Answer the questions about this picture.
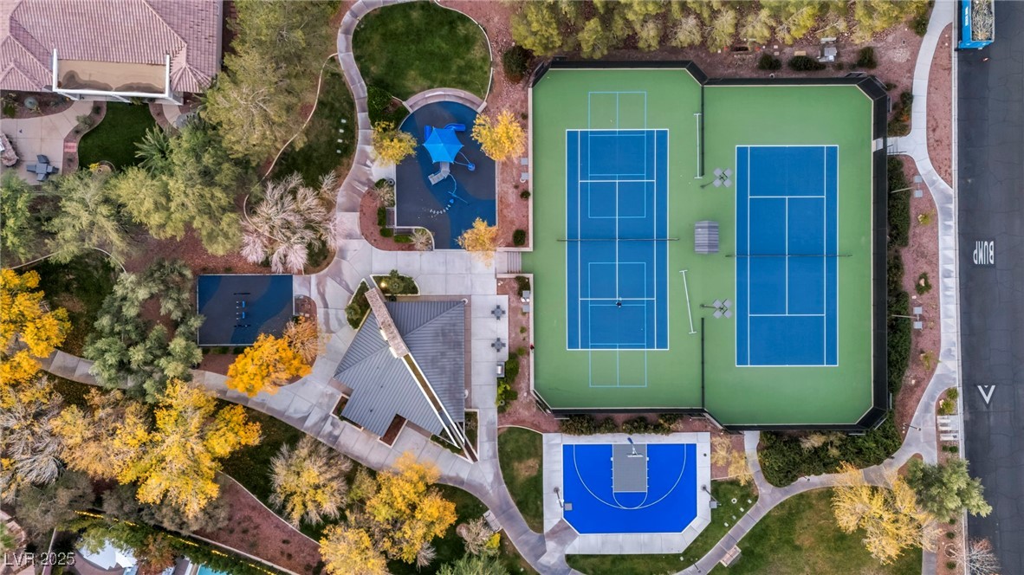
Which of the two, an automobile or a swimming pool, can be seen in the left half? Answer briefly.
swimming pool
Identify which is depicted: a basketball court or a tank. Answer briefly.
basketball court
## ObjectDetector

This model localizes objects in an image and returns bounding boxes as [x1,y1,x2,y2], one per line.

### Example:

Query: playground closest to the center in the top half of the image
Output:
[393,101,498,251]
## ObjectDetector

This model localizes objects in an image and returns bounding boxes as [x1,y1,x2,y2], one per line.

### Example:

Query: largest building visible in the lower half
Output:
[331,288,477,461]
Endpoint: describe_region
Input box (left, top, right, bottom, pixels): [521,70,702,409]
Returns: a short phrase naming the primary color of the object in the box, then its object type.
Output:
green tennis court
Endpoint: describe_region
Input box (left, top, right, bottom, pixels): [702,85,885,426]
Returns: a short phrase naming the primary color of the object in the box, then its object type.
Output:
green tennis court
